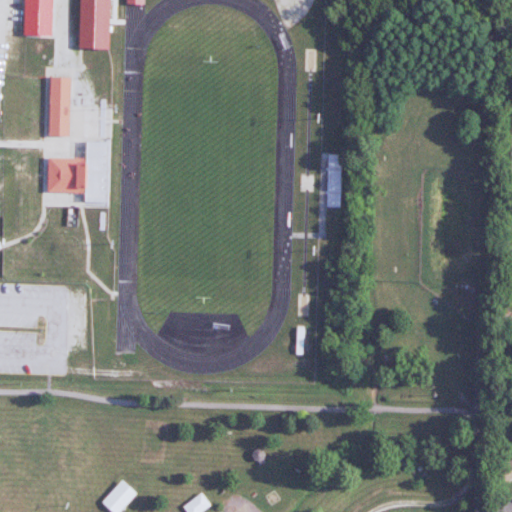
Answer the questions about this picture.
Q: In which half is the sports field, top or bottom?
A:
top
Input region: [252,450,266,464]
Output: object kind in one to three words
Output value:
gazebo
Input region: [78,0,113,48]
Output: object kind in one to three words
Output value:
building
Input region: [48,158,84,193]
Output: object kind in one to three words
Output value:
building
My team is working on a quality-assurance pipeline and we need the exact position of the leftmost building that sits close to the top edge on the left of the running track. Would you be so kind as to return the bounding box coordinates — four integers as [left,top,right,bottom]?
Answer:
[23,0,52,36]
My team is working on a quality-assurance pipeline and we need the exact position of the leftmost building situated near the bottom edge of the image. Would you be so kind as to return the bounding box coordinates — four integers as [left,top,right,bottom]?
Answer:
[102,480,138,512]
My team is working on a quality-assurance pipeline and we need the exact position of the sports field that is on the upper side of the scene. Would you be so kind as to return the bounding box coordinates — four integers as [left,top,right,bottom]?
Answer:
[138,4,278,340]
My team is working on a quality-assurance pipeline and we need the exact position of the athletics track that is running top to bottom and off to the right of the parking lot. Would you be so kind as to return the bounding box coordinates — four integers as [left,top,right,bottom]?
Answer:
[116,0,296,373]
